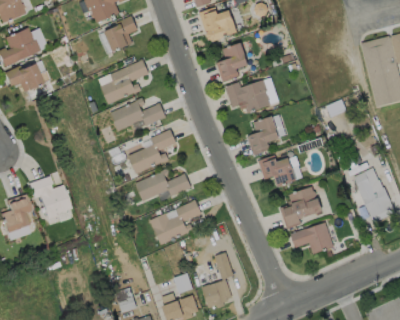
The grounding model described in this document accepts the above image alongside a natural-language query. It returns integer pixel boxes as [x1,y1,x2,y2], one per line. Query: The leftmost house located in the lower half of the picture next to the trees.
[2,195,34,240]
